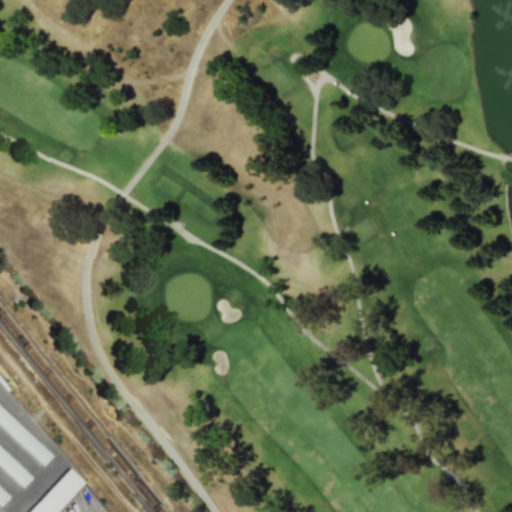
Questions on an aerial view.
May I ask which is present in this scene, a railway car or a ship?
railway car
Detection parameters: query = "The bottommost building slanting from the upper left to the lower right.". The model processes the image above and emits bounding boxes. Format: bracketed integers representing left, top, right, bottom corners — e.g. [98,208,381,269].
[0,447,34,488]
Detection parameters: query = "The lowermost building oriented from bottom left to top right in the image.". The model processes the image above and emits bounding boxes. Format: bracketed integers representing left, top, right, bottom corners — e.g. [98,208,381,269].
[34,469,86,512]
